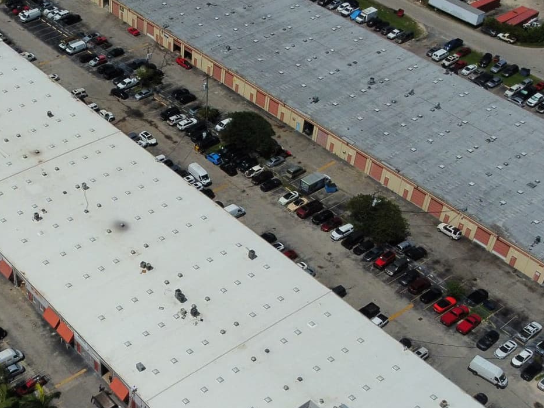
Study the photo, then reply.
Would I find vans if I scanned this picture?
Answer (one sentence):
Yes, looking at the shot, I can spot a van.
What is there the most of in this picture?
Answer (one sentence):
The scene is dominated by buildings.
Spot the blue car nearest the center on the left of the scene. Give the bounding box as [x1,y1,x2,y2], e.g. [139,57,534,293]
[204,152,225,167]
